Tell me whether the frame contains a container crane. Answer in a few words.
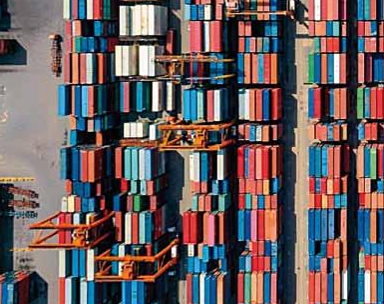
Yes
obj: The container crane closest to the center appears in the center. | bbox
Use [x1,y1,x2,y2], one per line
[157,114,238,152]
